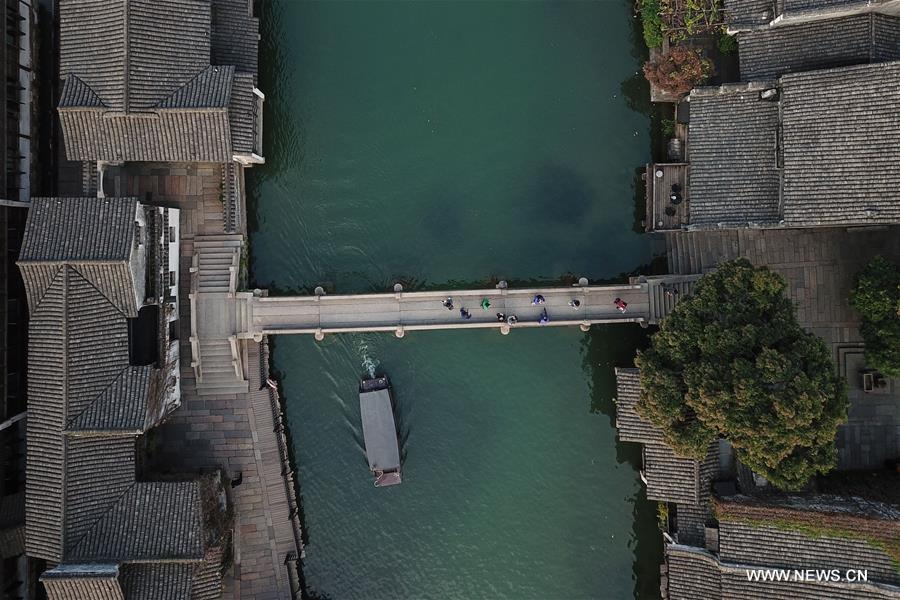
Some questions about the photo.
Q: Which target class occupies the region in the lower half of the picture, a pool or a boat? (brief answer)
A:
boat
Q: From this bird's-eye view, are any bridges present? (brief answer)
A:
Yes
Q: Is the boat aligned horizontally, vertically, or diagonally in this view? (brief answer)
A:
vertically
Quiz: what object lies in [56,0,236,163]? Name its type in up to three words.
house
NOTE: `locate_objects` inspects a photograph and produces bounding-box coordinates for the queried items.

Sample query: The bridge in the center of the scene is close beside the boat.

[250,276,649,343]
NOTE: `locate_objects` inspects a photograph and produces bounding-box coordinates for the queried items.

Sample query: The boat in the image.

[359,373,401,490]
